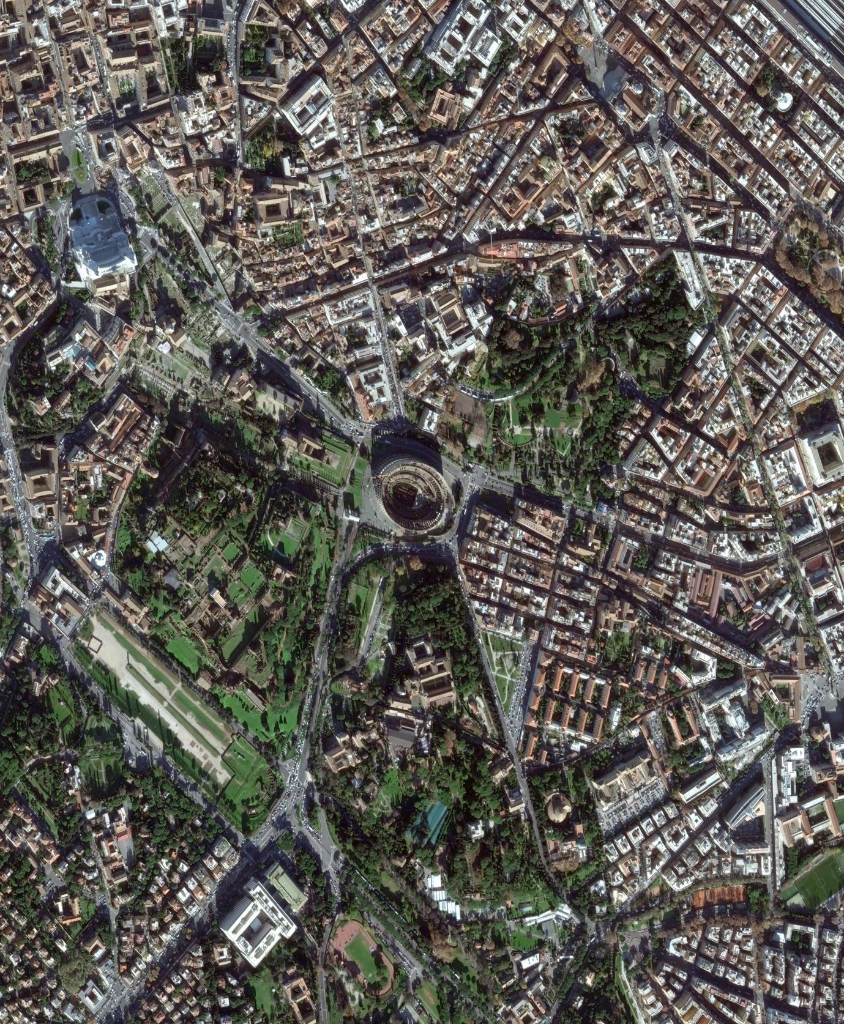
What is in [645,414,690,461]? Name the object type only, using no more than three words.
building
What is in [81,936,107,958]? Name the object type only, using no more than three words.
house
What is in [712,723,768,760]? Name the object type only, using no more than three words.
house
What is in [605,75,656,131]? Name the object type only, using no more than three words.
building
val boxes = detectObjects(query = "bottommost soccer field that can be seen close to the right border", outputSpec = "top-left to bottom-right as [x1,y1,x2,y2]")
[795,855,844,910]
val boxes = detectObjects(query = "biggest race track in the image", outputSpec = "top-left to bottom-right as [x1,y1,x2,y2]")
[70,612,277,809]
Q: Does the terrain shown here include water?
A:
No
